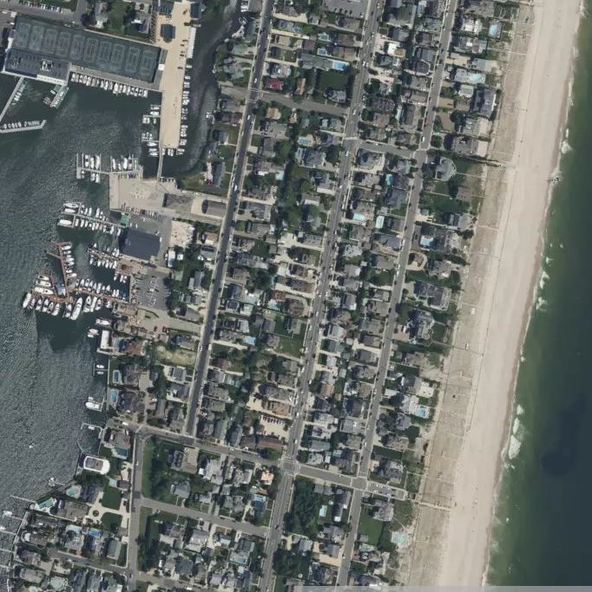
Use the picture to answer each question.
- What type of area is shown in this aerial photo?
residential area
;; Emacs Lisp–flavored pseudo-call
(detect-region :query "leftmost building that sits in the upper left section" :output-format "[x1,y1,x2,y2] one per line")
[2,44,70,84]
